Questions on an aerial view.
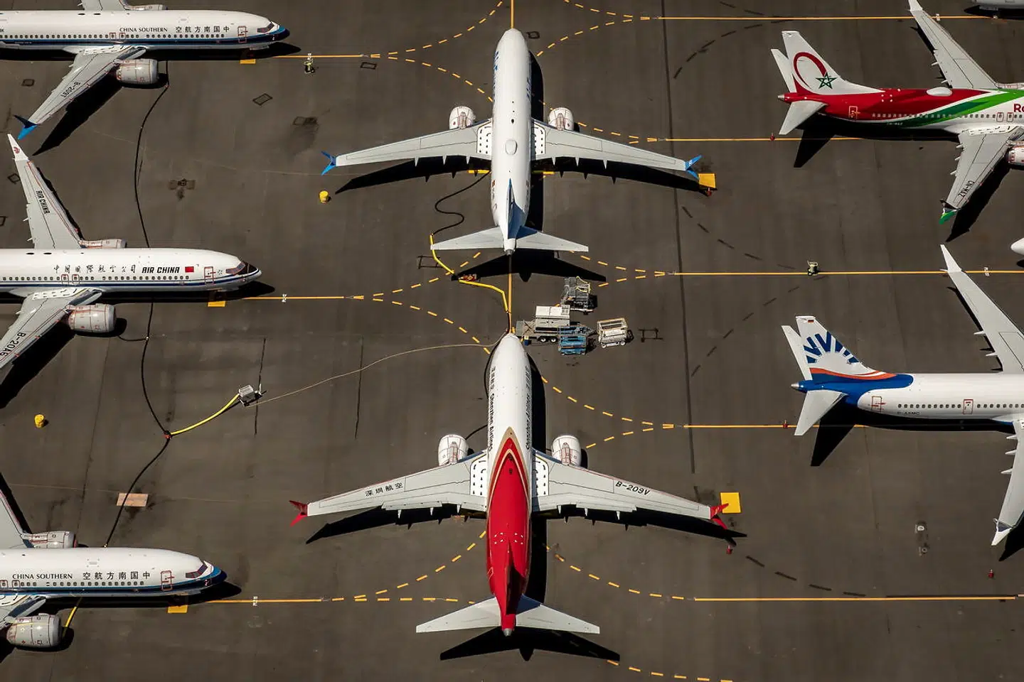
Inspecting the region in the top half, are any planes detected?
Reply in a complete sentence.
Yes, a plane appears in the top half.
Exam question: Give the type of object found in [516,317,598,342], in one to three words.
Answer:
trailer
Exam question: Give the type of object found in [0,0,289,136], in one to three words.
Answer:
airplane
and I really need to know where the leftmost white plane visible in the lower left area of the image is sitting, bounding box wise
[0,483,227,646]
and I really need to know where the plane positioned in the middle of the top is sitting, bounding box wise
[321,29,702,257]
